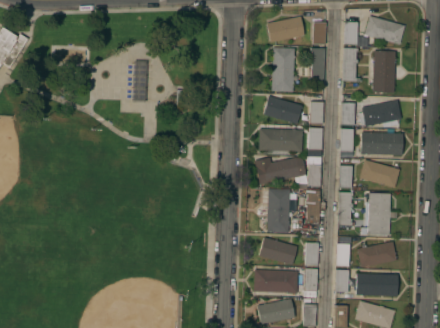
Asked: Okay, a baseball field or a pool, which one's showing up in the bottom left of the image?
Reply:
baseball field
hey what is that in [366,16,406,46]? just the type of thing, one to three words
house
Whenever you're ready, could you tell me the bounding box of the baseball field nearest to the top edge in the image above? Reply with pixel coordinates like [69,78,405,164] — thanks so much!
[0,104,82,250]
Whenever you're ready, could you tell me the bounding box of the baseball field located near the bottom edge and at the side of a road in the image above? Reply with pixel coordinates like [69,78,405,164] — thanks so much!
[34,210,199,328]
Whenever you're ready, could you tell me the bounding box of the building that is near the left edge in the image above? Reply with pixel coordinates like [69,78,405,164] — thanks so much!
[0,28,28,66]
